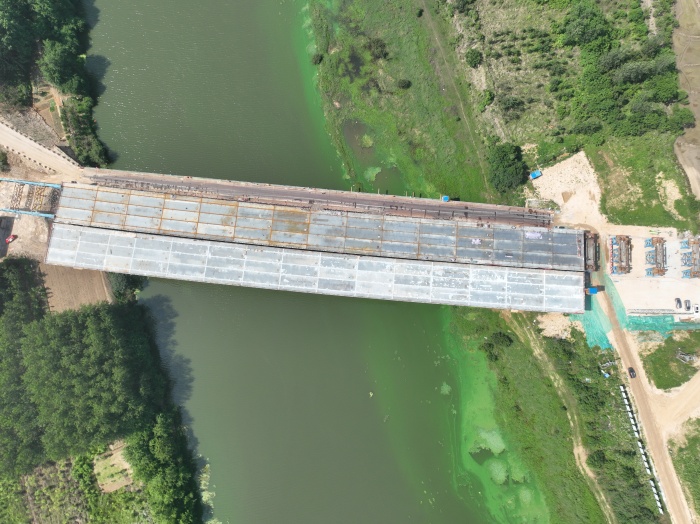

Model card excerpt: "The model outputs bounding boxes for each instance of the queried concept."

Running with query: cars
[628,367,636,378]
[674,297,682,309]
[4,234,17,243]
[684,299,691,311]
[693,303,700,314]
